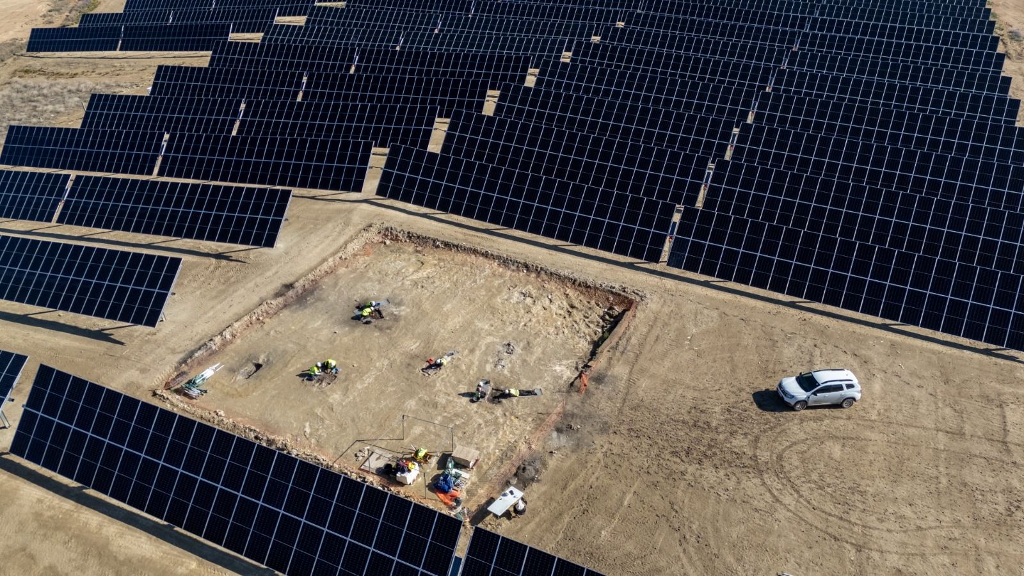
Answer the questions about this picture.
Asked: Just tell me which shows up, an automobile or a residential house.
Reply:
automobile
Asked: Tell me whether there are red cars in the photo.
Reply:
No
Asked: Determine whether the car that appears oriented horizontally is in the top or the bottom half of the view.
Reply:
bottom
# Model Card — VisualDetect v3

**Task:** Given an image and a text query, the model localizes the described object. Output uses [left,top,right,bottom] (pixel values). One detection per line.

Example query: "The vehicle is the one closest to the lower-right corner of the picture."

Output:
[775,366,864,412]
